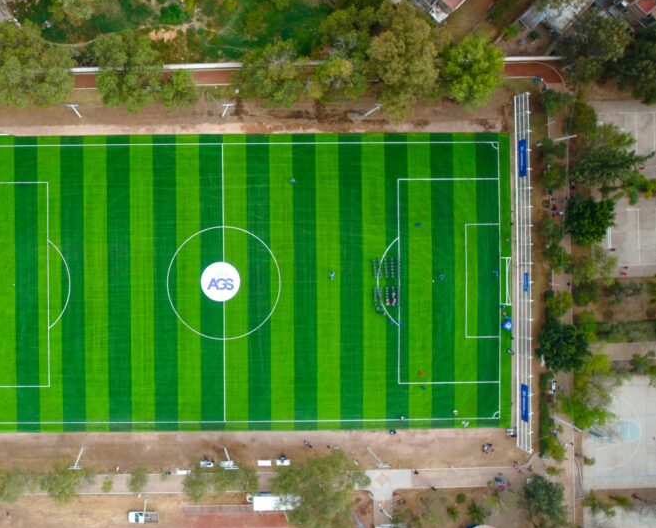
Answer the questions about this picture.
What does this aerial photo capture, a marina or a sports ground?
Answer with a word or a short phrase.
sports ground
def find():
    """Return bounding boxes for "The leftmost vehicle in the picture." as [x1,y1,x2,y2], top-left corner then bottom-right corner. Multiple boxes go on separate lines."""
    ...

[128,512,158,527]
